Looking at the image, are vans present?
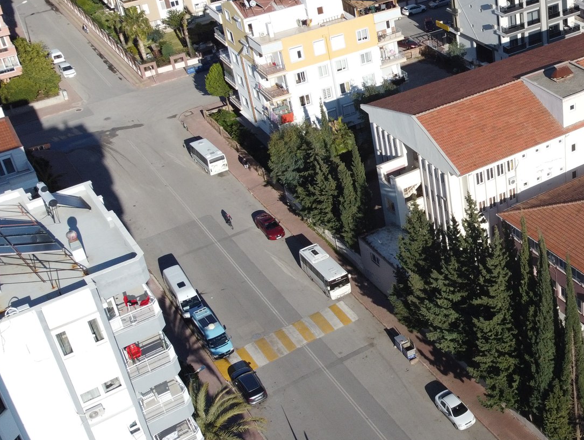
Yes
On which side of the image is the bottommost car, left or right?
right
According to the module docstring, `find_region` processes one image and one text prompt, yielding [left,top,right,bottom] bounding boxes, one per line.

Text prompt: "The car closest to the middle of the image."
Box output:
[253,212,282,237]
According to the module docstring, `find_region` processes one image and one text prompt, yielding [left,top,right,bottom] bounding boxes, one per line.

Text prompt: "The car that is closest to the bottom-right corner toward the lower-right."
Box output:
[432,385,474,425]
